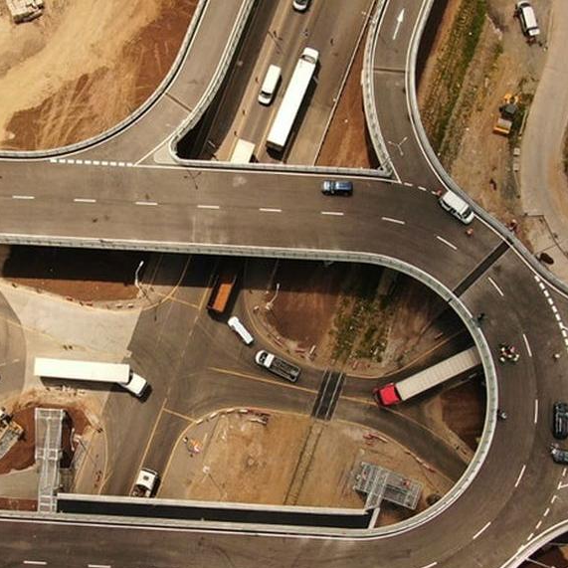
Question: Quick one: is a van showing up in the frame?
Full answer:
Yes, there's a van here.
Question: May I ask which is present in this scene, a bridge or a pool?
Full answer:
I can see a bridge in this picture.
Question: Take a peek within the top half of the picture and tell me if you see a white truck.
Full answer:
Yes, a white truck shows up within the top half of the picture.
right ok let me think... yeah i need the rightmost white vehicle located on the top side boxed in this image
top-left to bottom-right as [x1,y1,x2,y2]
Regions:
[514,5,542,38]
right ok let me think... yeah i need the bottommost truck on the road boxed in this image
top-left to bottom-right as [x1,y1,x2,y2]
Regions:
[132,467,161,498]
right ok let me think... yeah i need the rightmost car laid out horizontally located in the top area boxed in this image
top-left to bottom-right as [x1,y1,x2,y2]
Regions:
[320,180,352,196]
